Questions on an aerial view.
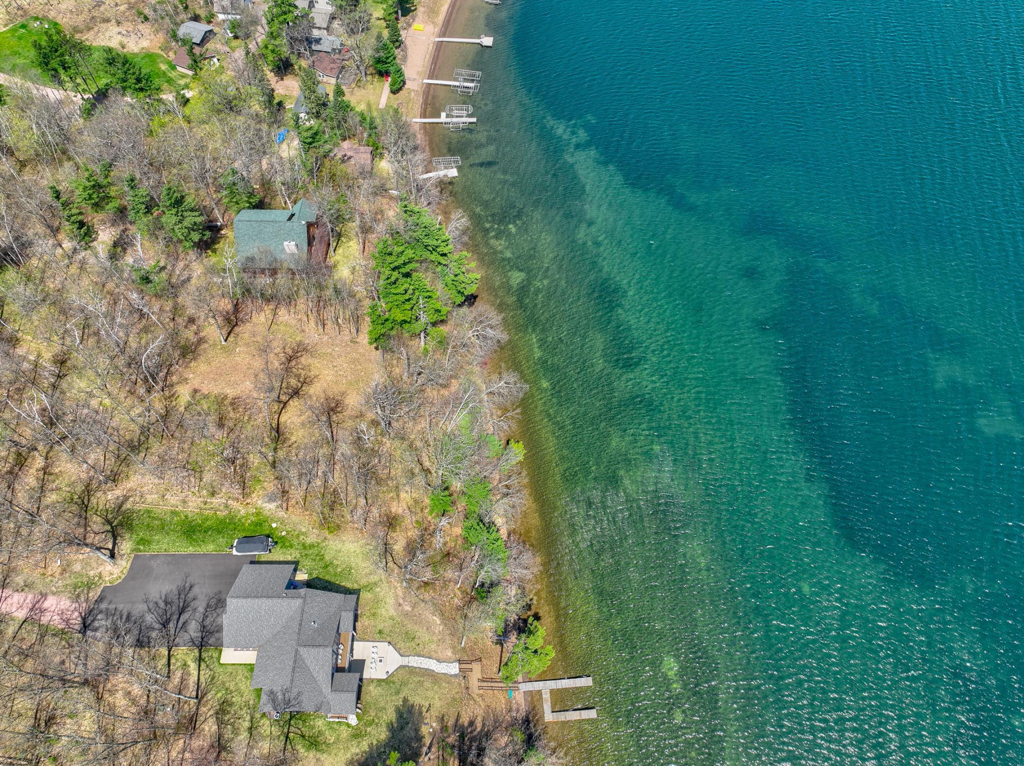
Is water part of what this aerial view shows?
Yes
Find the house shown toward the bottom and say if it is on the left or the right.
left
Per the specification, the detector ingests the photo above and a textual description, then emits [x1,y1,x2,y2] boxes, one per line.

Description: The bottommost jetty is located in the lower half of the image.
[519,676,597,723]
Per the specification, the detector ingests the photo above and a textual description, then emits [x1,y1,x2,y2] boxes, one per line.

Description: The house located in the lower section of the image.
[223,564,364,723]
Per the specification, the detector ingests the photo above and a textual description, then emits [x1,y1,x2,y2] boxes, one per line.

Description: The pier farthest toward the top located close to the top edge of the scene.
[435,36,493,49]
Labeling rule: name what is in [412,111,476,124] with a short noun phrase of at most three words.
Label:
pier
